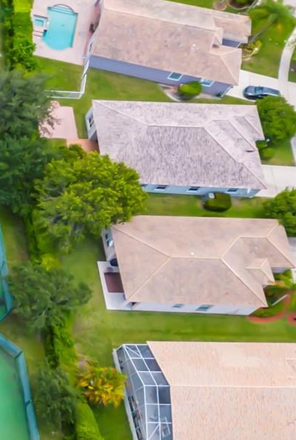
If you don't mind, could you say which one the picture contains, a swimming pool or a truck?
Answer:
swimming pool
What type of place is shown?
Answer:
residential area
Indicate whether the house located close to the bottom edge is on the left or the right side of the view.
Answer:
right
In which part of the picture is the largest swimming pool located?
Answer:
top left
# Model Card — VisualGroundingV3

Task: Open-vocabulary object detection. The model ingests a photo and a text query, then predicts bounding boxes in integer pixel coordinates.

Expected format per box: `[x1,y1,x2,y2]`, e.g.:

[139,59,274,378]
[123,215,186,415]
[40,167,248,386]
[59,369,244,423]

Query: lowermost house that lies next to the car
[88,99,267,198]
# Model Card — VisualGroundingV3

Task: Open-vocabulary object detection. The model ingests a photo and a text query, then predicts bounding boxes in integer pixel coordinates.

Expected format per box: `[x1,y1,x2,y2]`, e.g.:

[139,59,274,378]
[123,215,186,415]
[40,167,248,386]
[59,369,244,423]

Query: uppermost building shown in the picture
[87,0,252,96]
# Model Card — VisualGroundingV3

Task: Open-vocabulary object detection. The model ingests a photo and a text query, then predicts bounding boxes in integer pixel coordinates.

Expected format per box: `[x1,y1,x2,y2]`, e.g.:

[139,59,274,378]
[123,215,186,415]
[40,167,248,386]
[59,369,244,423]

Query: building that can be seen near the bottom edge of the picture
[145,341,296,440]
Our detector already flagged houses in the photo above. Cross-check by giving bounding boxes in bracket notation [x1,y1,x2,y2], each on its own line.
[88,99,267,198]
[145,341,296,440]
[87,0,252,96]
[105,218,296,315]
